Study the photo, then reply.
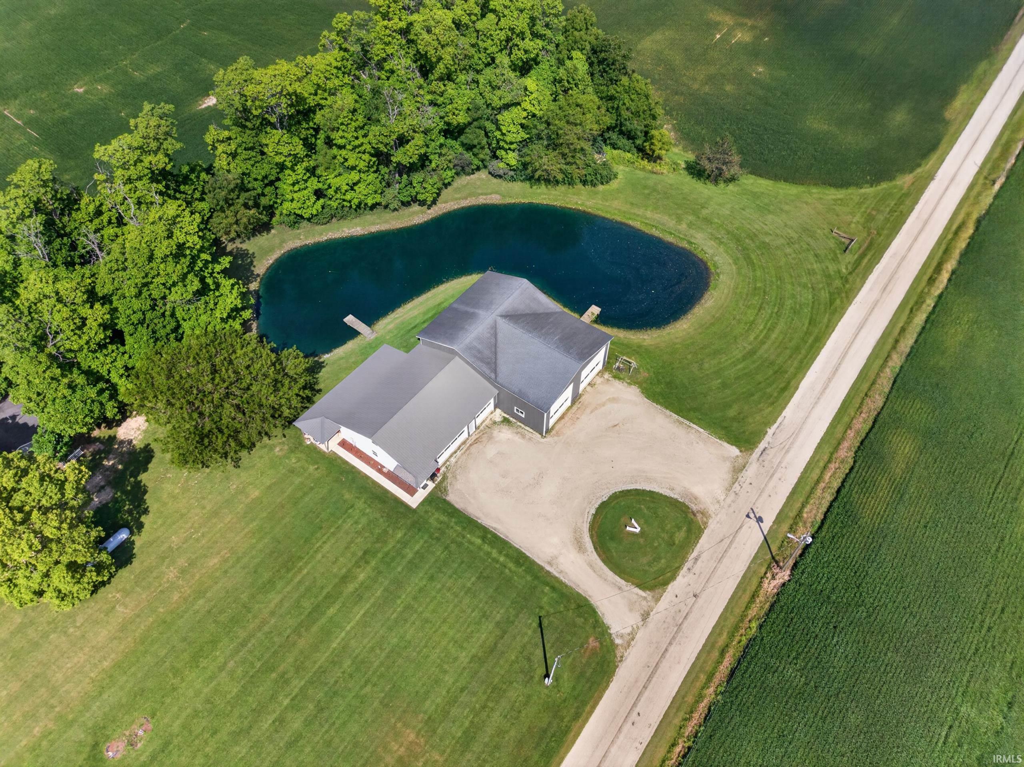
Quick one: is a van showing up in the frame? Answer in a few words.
No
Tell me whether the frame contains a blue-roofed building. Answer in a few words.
No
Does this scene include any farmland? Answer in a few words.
Yes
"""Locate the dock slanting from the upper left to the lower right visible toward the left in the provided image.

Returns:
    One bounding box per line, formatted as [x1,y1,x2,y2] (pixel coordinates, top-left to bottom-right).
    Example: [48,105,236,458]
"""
[343,314,378,339]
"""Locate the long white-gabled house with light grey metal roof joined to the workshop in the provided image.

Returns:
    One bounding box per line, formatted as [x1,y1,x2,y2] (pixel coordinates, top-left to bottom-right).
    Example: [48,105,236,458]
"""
[293,343,498,497]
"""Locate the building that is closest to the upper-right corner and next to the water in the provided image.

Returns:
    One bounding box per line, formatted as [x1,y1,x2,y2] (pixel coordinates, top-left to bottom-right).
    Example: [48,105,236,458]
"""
[415,271,615,436]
